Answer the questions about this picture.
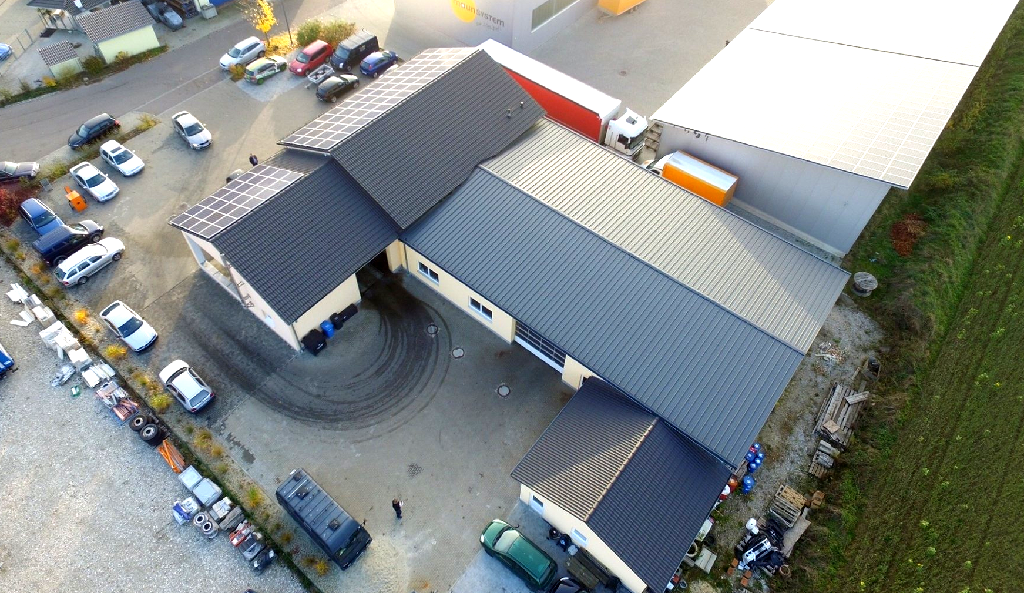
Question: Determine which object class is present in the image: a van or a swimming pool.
van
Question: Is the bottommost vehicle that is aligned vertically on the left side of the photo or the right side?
left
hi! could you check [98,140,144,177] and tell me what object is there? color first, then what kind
white car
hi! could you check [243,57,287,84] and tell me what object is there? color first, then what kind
white car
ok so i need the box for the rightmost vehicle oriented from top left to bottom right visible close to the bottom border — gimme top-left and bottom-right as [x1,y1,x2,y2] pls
[482,518,557,591]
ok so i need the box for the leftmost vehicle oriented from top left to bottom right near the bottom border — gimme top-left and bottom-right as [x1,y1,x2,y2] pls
[274,467,373,570]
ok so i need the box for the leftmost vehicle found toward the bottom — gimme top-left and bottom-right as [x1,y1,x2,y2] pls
[0,338,23,387]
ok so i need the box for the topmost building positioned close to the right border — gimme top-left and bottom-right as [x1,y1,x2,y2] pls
[651,0,1017,262]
